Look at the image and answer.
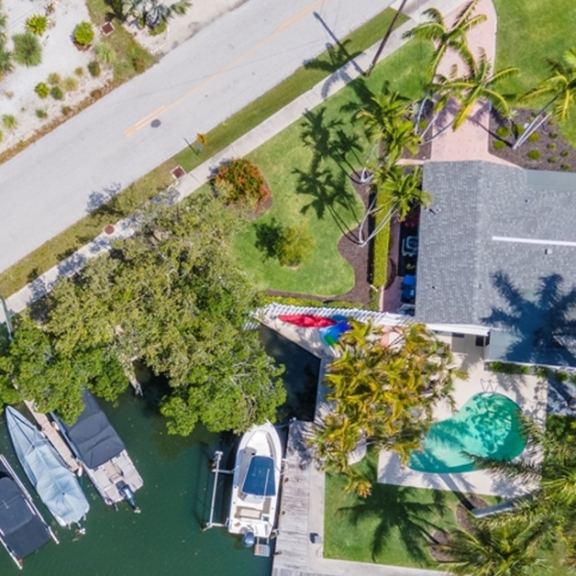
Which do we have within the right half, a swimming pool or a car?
swimming pool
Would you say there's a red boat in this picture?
Yes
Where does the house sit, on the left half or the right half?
right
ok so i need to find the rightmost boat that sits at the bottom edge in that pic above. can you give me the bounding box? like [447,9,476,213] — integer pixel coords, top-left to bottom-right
[228,422,284,556]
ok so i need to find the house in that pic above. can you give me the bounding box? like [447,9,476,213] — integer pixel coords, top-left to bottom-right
[405,161,576,387]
